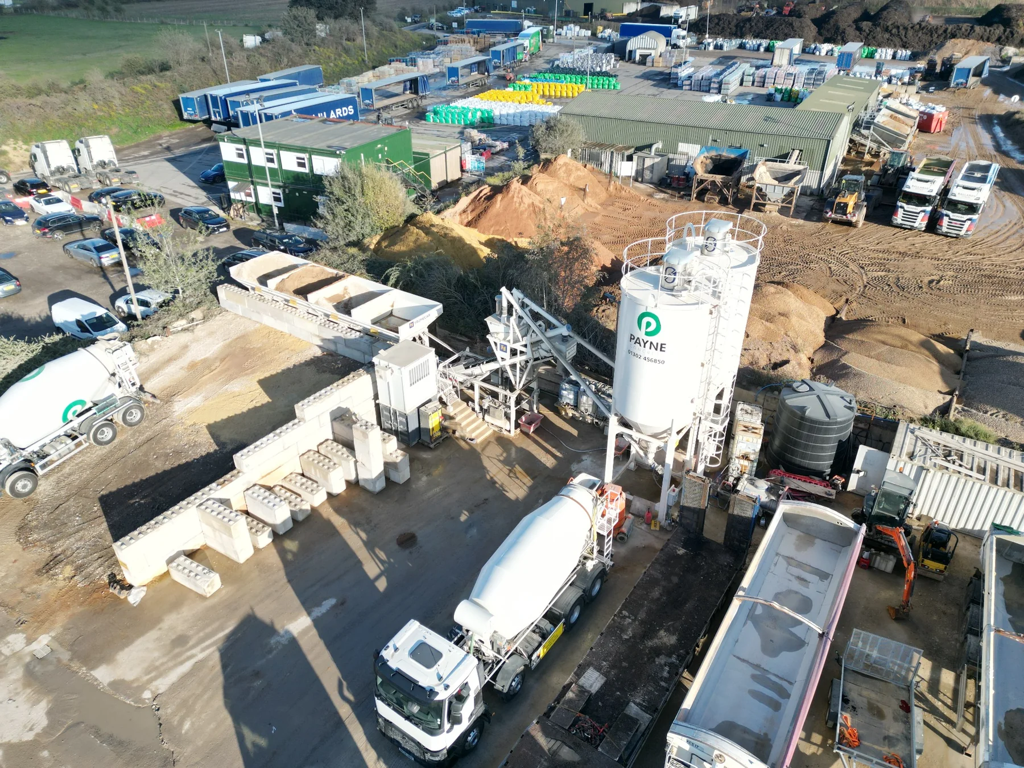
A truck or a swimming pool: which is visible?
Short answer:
truck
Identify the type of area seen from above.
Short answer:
industrial area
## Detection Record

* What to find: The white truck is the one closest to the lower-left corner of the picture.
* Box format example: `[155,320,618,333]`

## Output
[0,335,154,500]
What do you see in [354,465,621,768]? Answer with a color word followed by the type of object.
white truck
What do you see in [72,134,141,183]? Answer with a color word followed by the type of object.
white truck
